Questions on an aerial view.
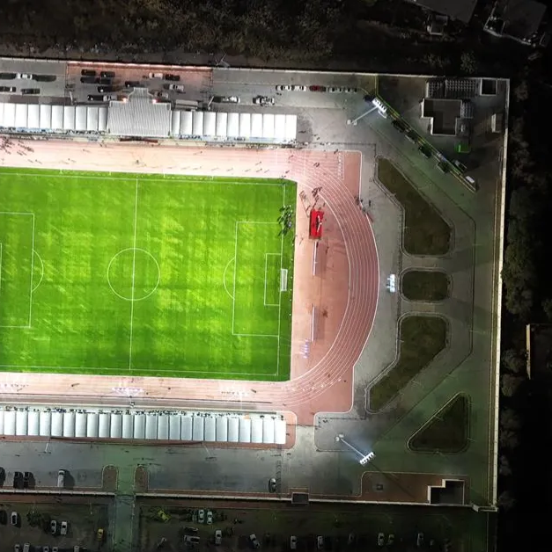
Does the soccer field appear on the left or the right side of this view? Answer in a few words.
left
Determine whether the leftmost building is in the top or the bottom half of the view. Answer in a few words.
top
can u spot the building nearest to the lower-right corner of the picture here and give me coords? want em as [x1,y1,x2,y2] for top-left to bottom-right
[423,478,464,506]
